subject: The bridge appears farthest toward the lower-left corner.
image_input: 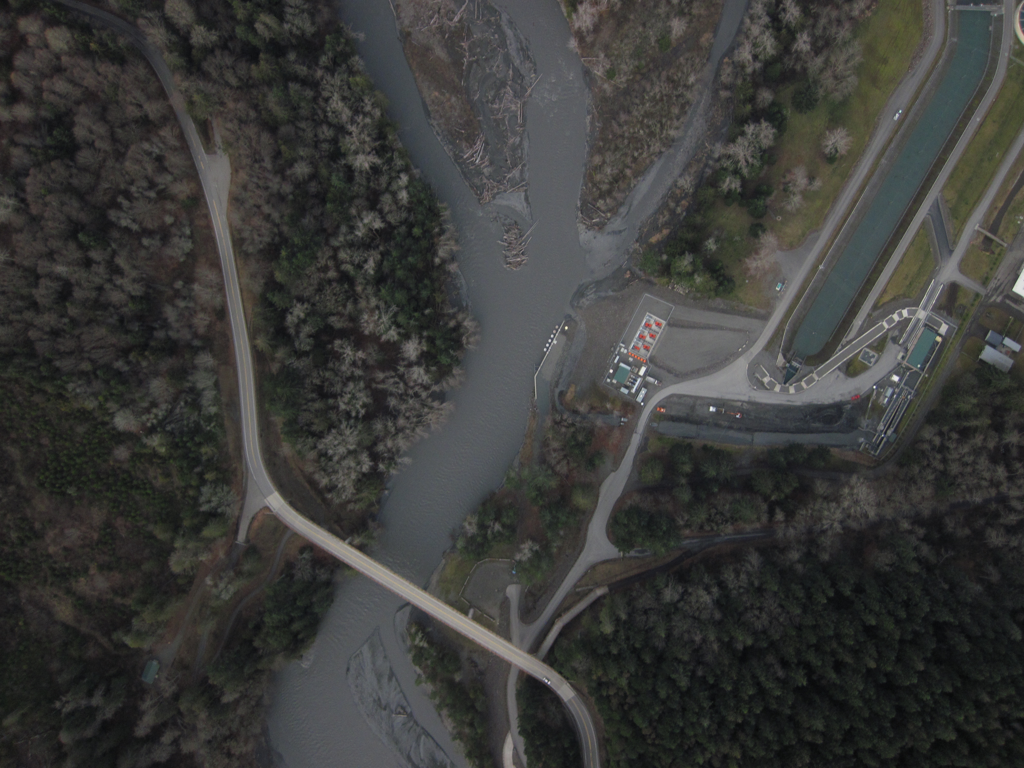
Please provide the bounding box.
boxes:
[265,491,577,704]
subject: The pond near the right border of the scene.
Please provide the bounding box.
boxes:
[776,0,992,366]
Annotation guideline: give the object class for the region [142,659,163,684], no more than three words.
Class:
shed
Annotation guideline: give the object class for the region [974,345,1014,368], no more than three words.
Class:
shed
